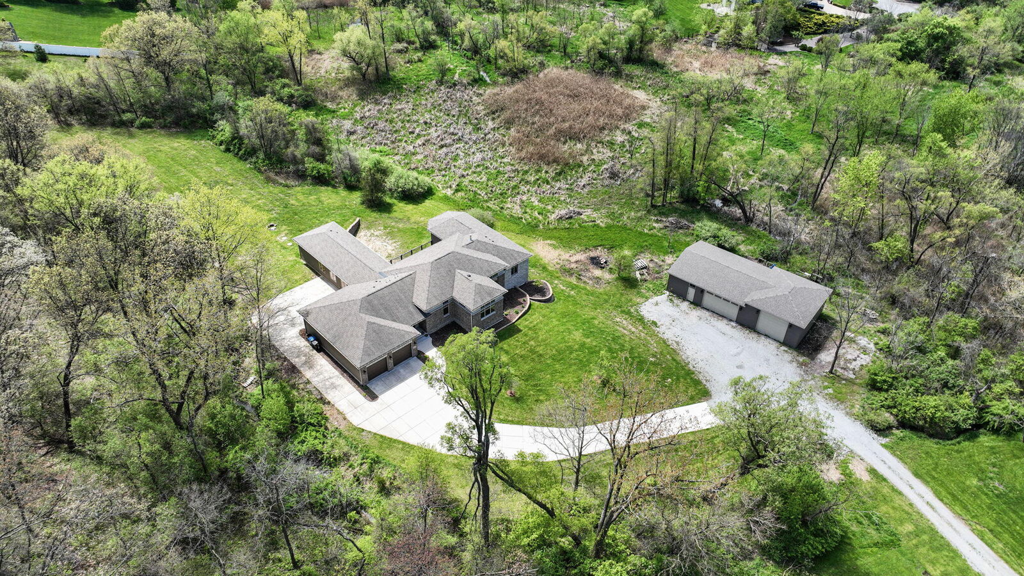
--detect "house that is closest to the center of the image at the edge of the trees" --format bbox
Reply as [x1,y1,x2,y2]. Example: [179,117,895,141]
[291,211,535,385]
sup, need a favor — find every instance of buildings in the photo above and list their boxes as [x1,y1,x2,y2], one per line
[291,211,535,385]
[0,14,18,39]
[666,241,834,347]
